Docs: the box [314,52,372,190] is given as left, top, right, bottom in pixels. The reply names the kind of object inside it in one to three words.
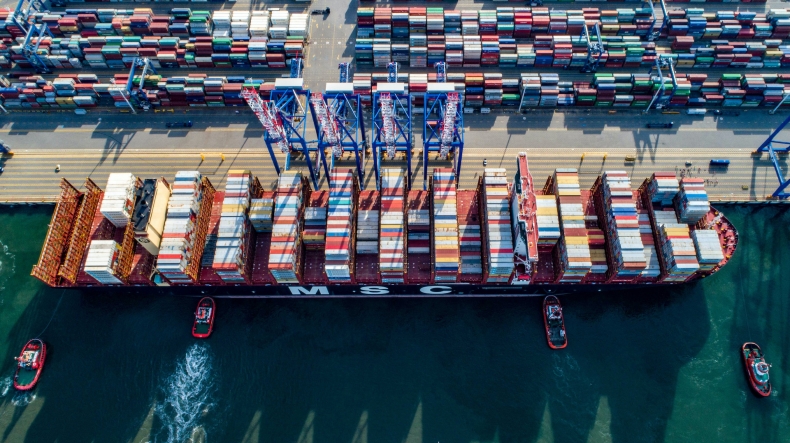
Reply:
container crane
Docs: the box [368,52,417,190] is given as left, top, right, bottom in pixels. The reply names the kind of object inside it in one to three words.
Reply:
container crane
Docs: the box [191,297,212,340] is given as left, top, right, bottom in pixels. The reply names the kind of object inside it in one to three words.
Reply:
boat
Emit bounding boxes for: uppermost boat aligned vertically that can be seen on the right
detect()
[544,296,569,347]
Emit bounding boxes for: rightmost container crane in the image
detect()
[754,124,790,196]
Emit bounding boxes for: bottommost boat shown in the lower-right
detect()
[744,341,775,395]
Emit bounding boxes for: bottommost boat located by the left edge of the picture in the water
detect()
[11,336,43,390]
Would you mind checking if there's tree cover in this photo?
No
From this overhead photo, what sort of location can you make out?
port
